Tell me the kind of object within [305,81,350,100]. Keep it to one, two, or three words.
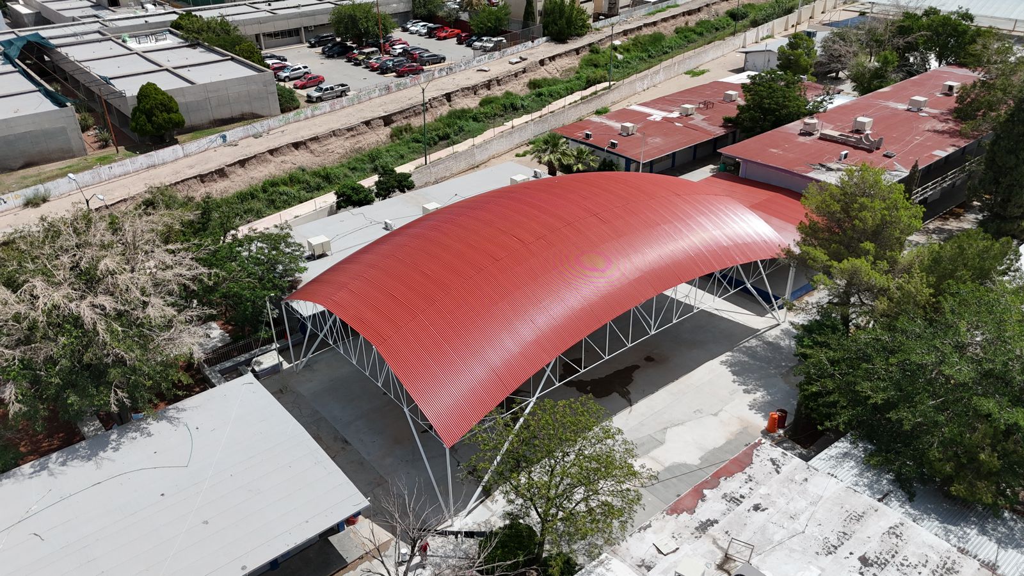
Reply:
vehicle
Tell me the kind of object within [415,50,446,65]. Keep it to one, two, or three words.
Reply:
car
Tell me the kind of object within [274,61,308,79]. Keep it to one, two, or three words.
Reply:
car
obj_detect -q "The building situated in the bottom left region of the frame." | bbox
[0,373,374,576]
